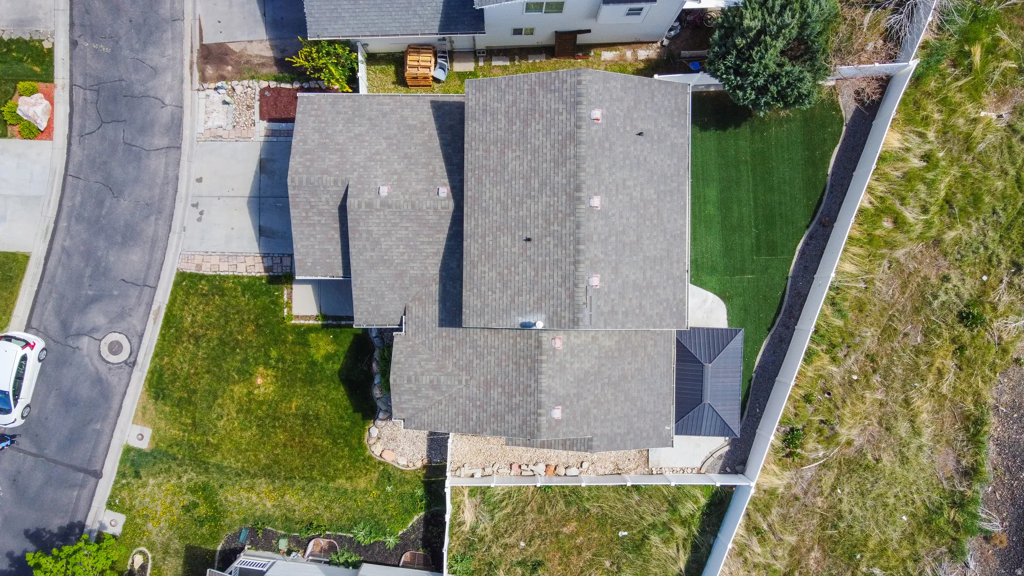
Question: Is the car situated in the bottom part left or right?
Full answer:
The car situated in the bottom part is on the left side of the image.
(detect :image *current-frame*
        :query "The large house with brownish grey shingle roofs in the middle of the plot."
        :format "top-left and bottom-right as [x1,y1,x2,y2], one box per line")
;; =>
[285,68,694,454]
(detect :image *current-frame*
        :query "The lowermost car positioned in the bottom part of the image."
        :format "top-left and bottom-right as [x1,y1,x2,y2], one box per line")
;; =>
[0,330,47,424]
